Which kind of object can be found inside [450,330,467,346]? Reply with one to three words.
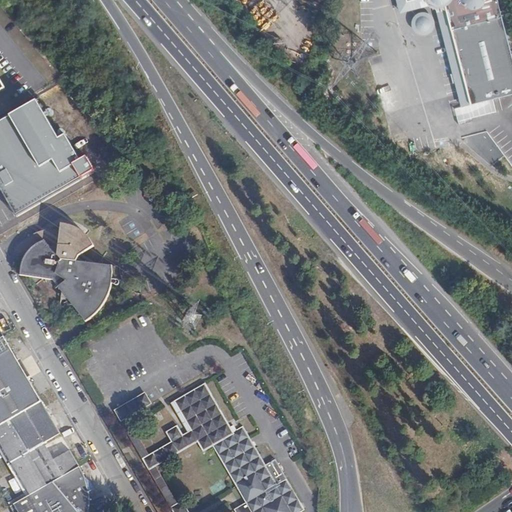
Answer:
vehicle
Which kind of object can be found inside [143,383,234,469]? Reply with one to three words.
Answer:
building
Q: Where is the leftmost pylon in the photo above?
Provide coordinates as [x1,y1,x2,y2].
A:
[180,310,202,332]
